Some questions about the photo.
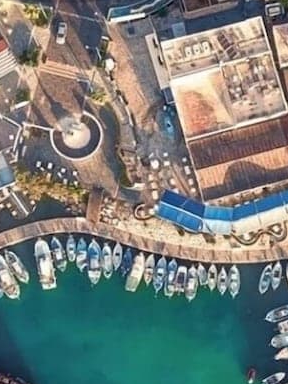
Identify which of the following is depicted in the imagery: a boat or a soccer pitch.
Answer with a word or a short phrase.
boat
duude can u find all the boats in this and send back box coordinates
[121,245,132,277]
[75,231,87,274]
[87,235,102,286]
[49,234,65,273]
[275,346,288,361]
[185,260,198,302]
[2,249,29,283]
[0,257,20,300]
[271,260,284,290]
[261,372,285,384]
[33,235,57,293]
[111,238,122,272]
[174,258,187,295]
[265,304,288,321]
[228,264,241,299]
[102,235,113,279]
[152,253,167,293]
[66,234,76,262]
[165,257,177,297]
[217,263,227,296]
[144,252,156,286]
[260,262,273,294]
[270,330,288,346]
[123,247,145,294]
[196,261,210,287]
[275,318,288,334]
[208,261,218,291]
